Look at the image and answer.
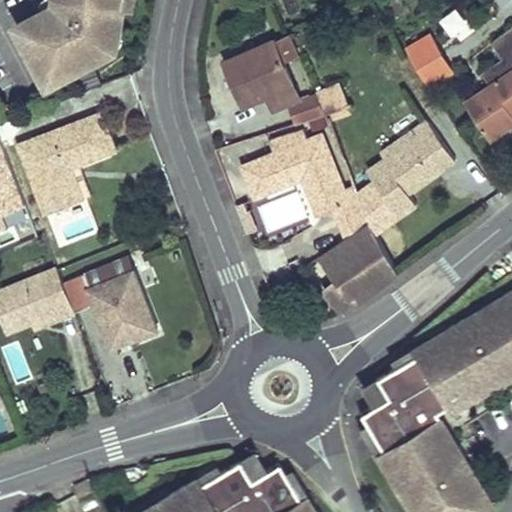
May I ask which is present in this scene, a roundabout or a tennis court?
roundabout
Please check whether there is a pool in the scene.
Yes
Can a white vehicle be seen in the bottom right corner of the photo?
Yes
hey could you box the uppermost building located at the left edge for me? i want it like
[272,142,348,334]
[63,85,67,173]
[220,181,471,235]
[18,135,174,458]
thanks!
[6,0,134,96]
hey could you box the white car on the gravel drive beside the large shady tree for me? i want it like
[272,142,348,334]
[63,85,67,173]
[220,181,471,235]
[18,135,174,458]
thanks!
[466,162,486,184]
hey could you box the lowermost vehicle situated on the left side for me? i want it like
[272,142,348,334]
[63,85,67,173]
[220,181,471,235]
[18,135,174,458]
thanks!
[123,356,136,377]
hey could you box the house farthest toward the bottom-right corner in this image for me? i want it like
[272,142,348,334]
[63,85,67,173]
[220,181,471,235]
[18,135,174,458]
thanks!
[378,423,496,512]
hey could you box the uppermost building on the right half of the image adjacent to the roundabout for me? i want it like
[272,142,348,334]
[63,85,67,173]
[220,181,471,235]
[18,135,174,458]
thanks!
[238,122,454,240]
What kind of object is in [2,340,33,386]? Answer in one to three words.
swimming pool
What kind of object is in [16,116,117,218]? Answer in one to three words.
house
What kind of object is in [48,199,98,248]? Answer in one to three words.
swimming pool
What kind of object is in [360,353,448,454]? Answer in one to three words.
building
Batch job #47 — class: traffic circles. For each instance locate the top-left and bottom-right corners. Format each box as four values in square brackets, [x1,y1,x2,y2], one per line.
[190,320,368,474]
